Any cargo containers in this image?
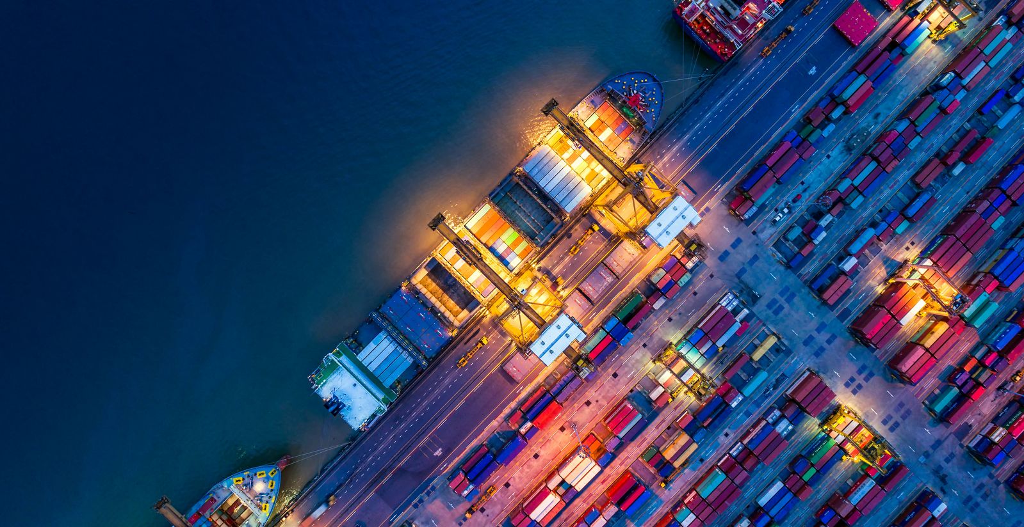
Yes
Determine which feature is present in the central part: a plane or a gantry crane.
gantry crane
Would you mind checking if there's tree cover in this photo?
No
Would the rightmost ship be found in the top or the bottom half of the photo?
top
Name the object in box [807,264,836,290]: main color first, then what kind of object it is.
blue shipping container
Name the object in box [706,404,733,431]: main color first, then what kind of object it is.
blue shipping container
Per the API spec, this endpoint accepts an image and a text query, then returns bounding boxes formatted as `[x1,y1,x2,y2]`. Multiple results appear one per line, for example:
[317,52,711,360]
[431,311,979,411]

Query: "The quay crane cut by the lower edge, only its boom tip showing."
[155,493,205,527]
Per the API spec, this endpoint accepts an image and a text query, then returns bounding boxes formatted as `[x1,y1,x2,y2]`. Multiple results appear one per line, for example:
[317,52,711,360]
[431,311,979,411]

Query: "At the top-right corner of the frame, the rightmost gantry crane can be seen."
[896,0,983,47]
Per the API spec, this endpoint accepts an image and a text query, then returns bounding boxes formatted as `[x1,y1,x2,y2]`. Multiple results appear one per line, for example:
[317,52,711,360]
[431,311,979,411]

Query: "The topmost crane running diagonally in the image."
[541,92,714,266]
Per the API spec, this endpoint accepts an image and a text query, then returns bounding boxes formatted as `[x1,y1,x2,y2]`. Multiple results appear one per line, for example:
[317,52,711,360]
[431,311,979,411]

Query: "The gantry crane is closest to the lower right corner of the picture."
[817,404,899,474]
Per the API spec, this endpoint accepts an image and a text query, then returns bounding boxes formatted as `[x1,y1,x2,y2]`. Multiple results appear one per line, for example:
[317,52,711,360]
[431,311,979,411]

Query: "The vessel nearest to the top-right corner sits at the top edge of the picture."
[673,0,787,62]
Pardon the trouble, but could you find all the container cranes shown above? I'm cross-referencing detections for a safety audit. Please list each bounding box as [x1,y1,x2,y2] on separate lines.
[906,265,972,319]
[817,404,899,474]
[155,493,205,527]
[425,211,599,382]
[651,340,720,405]
[541,92,714,266]
[896,0,983,47]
